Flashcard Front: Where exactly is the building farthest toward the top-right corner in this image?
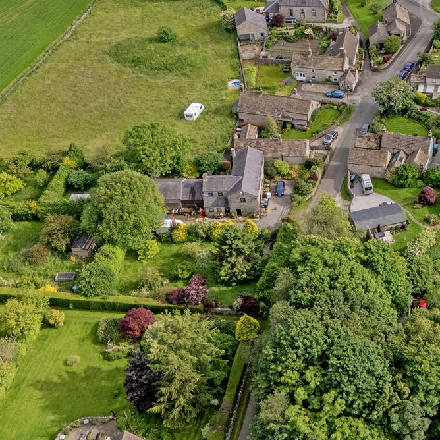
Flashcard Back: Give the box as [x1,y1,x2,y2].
[368,4,415,43]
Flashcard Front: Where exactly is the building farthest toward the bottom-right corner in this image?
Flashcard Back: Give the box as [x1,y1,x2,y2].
[351,203,407,238]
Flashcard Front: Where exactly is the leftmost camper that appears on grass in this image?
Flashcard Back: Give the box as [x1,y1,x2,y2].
[181,103,204,122]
